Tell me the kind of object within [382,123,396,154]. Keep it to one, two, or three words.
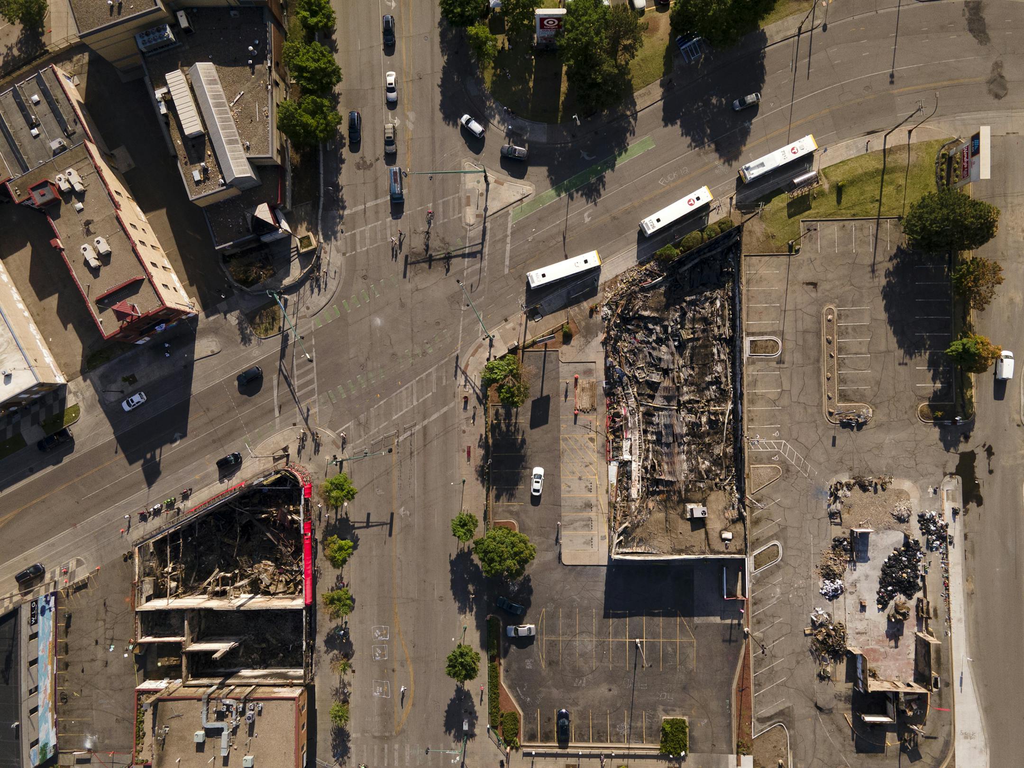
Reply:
car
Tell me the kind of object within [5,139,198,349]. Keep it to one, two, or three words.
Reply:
building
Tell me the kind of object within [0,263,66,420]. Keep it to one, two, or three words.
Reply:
building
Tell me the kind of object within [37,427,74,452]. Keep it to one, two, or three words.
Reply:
truck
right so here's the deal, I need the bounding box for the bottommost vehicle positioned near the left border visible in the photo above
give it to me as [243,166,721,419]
[15,563,47,585]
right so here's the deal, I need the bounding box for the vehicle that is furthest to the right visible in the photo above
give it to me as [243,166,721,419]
[995,351,1014,380]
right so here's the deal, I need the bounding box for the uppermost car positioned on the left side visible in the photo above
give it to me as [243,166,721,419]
[381,13,396,46]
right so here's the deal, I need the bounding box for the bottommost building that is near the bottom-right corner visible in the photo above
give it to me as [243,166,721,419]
[842,626,938,723]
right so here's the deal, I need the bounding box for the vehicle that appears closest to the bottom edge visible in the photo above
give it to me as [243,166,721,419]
[556,709,570,742]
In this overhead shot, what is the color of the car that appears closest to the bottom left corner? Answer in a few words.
black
